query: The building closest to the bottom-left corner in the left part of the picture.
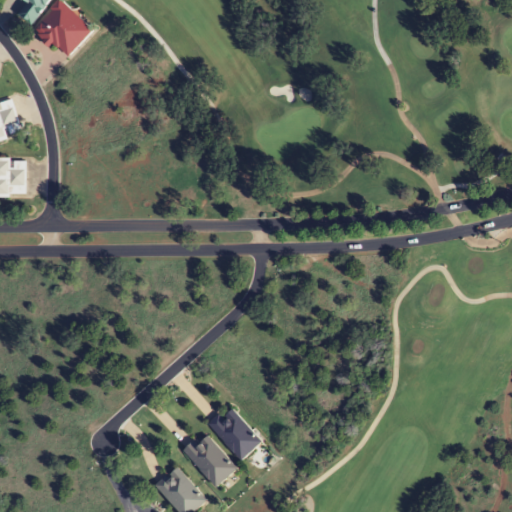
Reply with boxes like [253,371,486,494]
[154,470,207,512]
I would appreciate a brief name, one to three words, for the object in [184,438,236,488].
house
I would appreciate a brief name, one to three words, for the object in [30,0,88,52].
house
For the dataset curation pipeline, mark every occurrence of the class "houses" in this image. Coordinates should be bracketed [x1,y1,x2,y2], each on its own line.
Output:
[0,98,17,142]
[23,0,50,22]
[208,410,261,461]
[0,157,28,198]
[30,0,88,52]
[184,438,236,488]
[154,470,207,512]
